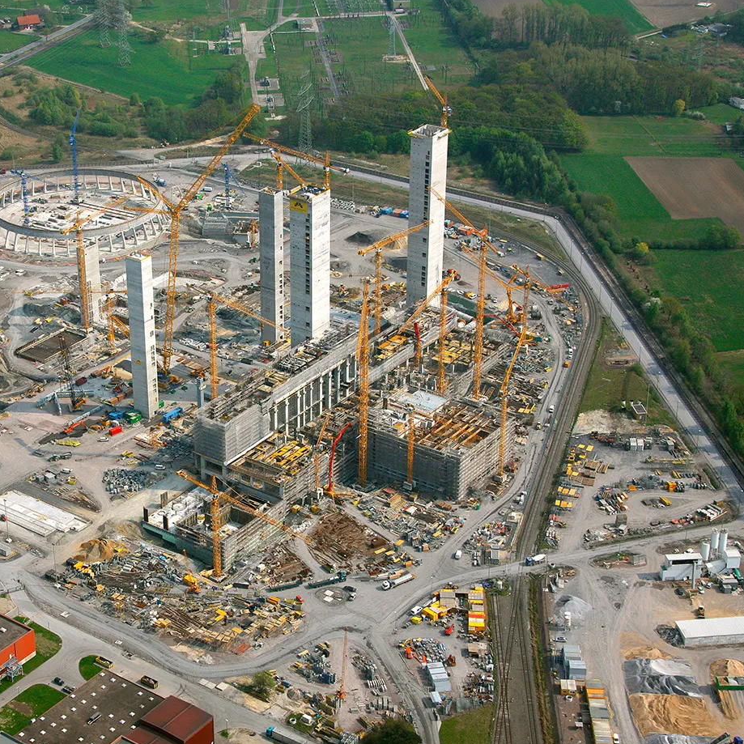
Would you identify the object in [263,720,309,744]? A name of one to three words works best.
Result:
truck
